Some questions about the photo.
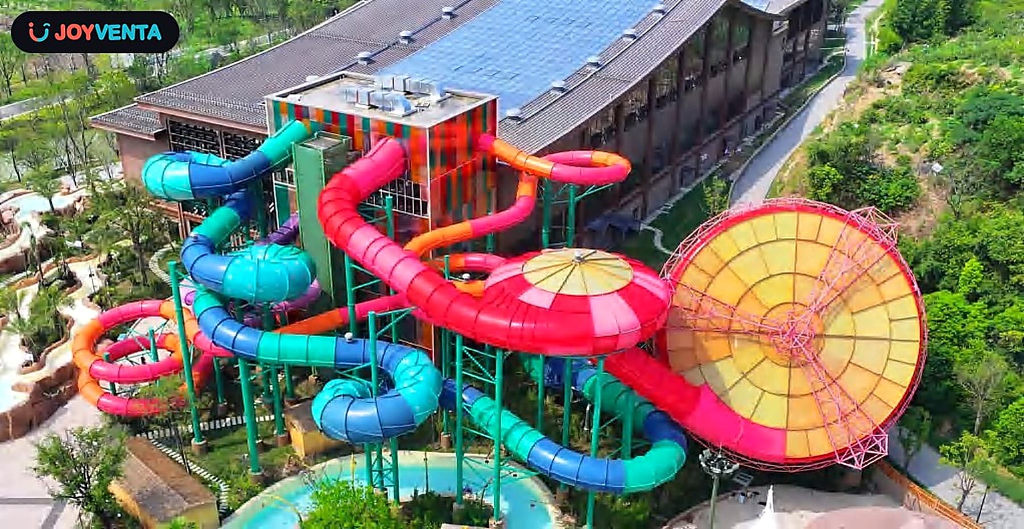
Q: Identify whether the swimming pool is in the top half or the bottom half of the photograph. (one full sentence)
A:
Seen from above, the swimming pool lies in the bottom half of the view.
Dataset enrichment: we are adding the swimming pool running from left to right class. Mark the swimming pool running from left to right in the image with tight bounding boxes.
[247,461,545,529]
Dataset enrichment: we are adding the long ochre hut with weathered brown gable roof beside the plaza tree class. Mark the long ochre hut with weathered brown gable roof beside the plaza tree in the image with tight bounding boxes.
[102,442,220,529]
